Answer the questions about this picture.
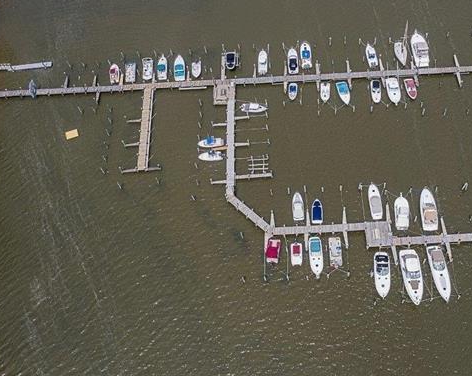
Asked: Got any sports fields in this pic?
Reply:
No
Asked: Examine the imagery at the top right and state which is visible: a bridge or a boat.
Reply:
boat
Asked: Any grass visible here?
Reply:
No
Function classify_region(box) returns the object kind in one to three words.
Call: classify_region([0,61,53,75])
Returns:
pier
